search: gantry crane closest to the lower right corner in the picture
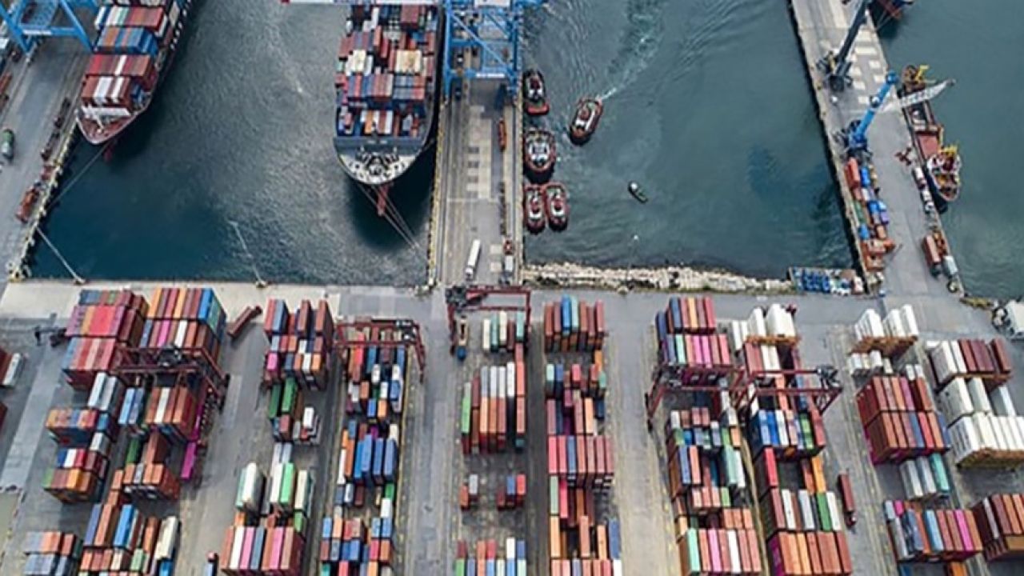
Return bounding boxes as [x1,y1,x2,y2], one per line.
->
[734,363,843,428]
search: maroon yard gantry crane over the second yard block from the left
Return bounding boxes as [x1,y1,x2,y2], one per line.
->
[109,344,230,409]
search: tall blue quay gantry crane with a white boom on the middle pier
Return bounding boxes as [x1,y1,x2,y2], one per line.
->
[270,0,544,104]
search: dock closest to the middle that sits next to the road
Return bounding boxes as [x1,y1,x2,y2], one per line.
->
[426,4,526,287]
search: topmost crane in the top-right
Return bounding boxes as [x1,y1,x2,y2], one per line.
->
[818,0,877,95]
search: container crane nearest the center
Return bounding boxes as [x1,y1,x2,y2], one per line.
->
[451,285,535,350]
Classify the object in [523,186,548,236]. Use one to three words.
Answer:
boat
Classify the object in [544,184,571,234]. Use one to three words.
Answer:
boat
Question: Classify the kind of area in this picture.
port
